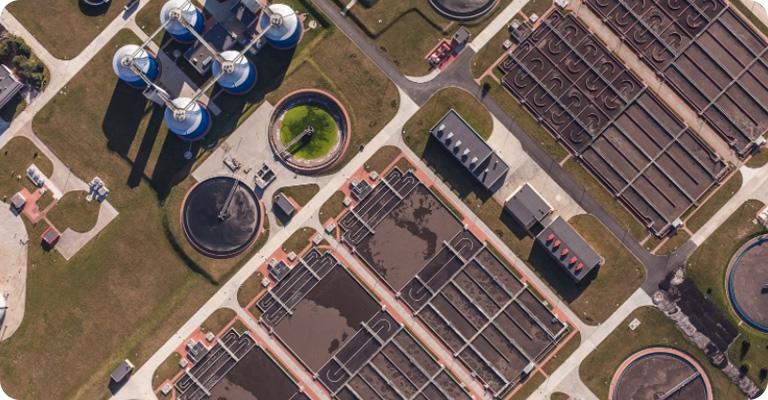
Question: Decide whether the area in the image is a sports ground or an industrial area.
industrial area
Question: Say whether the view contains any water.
Yes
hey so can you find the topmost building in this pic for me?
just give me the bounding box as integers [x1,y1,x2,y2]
[225,0,260,29]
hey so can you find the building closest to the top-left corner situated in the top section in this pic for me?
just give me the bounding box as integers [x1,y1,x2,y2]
[0,62,31,118]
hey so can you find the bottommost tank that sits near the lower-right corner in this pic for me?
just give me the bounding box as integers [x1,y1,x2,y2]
[610,347,715,400]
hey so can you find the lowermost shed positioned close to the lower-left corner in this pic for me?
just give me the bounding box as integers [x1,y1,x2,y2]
[110,358,136,383]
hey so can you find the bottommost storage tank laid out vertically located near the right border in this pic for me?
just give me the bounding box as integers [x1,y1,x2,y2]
[725,233,768,334]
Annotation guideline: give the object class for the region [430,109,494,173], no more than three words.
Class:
building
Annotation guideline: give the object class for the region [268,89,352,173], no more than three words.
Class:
storage tank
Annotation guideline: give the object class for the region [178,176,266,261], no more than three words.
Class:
storage tank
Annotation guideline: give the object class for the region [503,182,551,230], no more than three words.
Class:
building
